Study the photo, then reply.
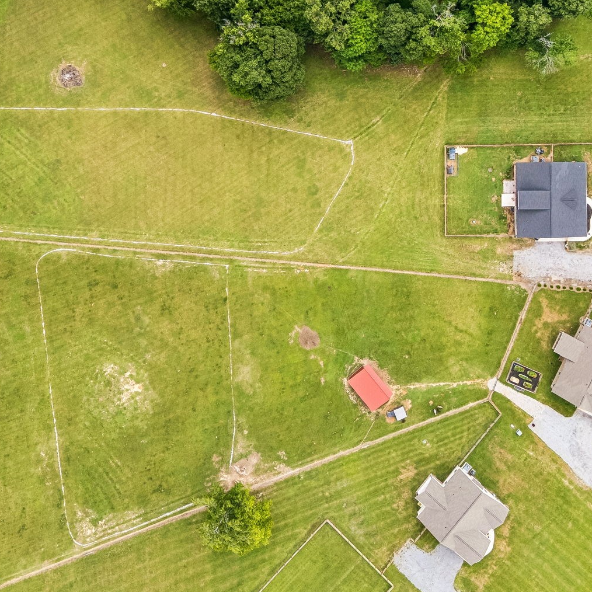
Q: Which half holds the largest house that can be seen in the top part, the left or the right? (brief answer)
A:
right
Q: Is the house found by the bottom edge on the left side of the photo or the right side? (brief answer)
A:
right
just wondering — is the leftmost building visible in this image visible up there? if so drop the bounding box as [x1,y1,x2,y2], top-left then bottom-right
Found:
[349,364,392,411]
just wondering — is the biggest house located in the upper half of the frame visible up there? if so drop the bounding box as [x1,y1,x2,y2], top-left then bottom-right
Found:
[515,162,588,238]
